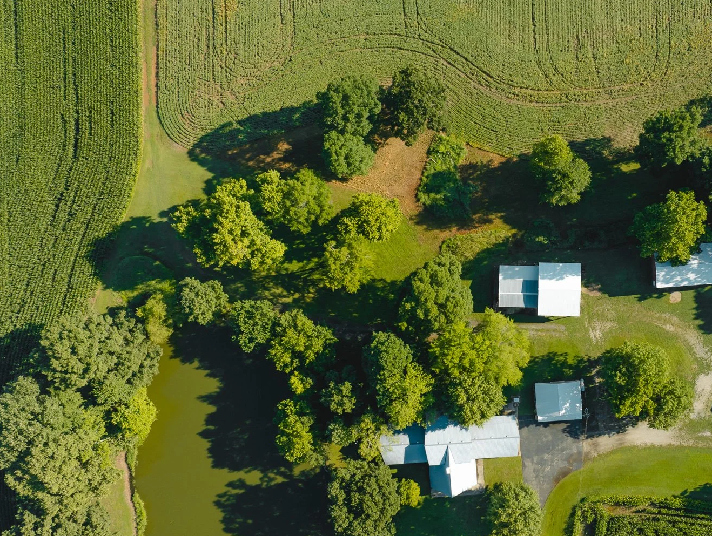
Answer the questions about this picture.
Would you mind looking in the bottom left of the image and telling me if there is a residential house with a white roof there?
No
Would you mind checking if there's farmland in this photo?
Yes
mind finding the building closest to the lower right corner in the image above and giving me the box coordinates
[535,380,582,423]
